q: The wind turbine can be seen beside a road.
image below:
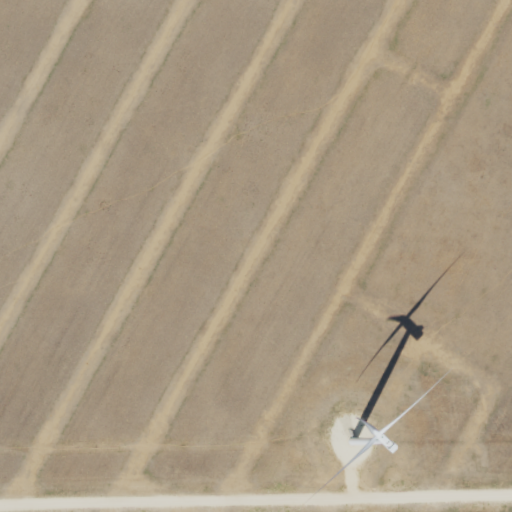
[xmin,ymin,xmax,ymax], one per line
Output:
[324,365,450,492]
